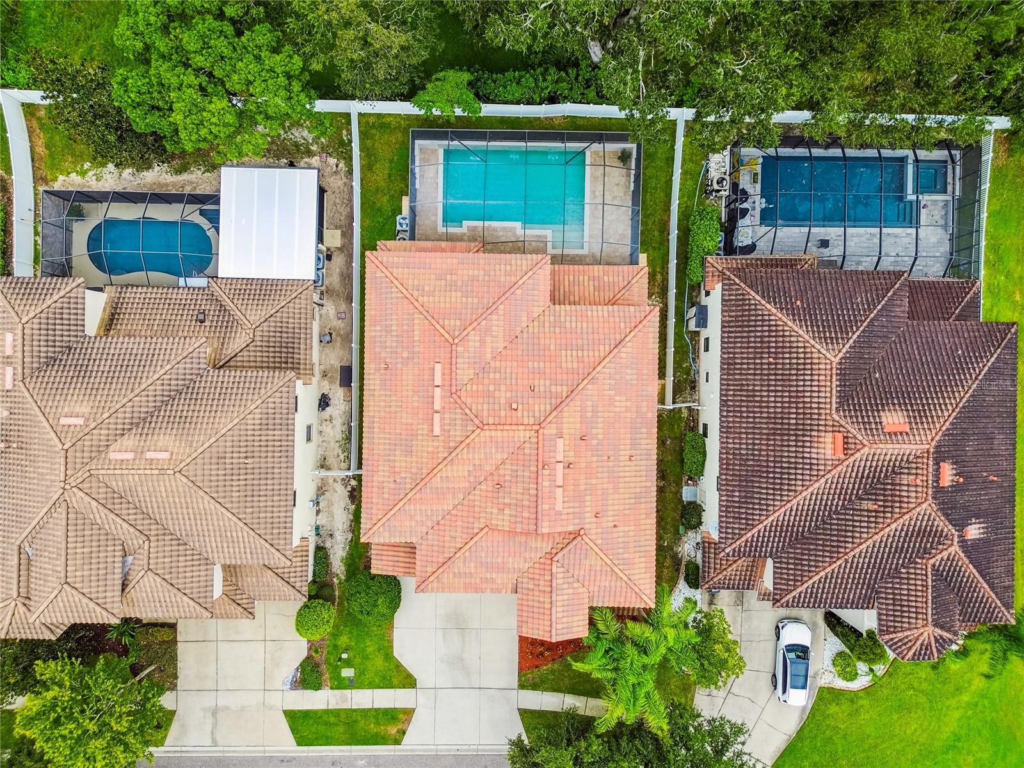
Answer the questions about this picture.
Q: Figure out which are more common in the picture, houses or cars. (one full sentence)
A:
The houses are the larger group, ahead of the cars.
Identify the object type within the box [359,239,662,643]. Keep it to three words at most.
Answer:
house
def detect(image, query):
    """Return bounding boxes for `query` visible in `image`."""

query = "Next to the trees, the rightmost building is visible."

[696,255,1020,663]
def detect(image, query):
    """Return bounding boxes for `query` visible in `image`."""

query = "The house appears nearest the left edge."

[0,275,320,641]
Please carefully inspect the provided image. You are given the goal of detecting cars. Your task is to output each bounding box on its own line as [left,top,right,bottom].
[769,614,820,703]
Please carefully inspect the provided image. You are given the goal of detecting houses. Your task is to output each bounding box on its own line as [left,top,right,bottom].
[359,239,662,643]
[696,255,1020,663]
[0,275,320,641]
